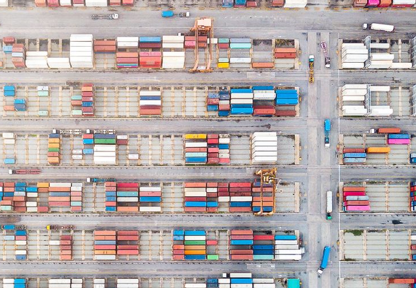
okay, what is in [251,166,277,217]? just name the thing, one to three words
container crane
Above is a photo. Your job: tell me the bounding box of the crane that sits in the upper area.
[189,16,213,73]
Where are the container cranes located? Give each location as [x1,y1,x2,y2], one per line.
[189,16,213,73]
[251,166,277,217]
